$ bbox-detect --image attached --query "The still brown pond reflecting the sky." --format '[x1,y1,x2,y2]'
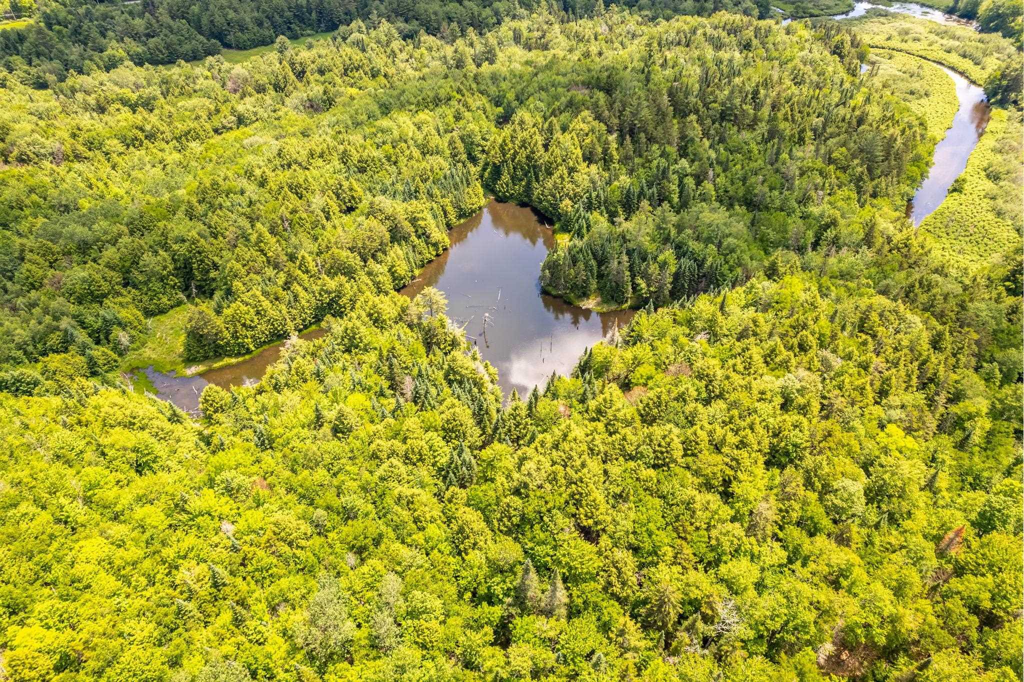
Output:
[133,200,660,433]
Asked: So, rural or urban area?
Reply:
rural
